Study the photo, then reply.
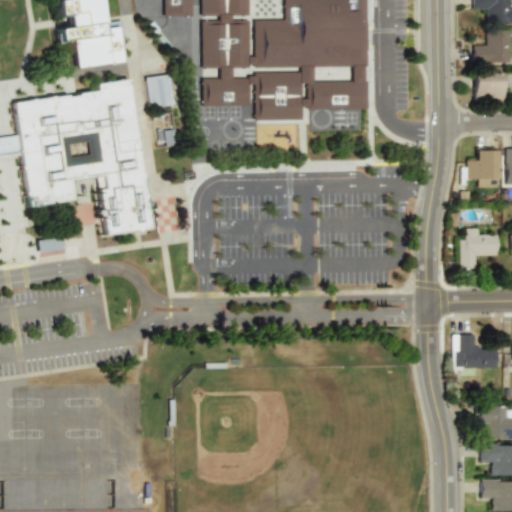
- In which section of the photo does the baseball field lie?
bottom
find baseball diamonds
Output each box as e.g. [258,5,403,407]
[175,368,425,512]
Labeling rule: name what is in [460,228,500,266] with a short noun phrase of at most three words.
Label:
house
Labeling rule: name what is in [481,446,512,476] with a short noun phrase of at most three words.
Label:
house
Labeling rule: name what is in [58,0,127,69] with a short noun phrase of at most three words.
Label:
building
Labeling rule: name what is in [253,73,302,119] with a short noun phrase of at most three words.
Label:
building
